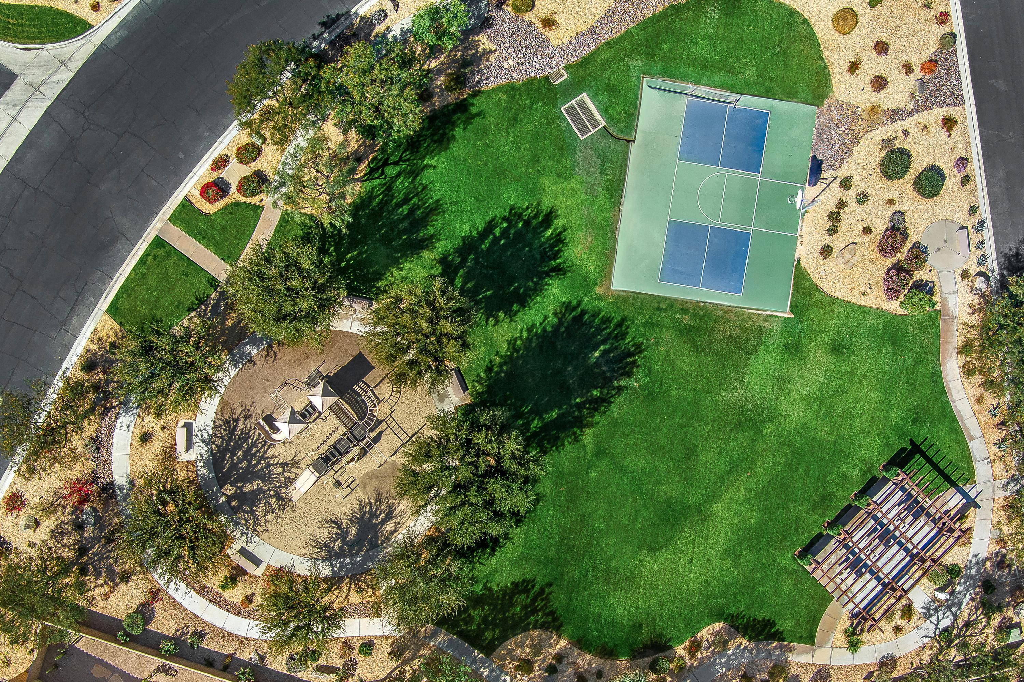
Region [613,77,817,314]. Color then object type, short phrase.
green sports court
